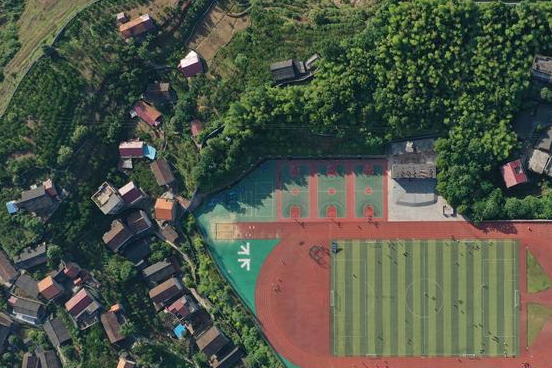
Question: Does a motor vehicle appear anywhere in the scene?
No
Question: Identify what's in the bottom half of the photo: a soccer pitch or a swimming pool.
soccer pitch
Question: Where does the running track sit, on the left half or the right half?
right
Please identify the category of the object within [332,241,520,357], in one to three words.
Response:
soccer field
